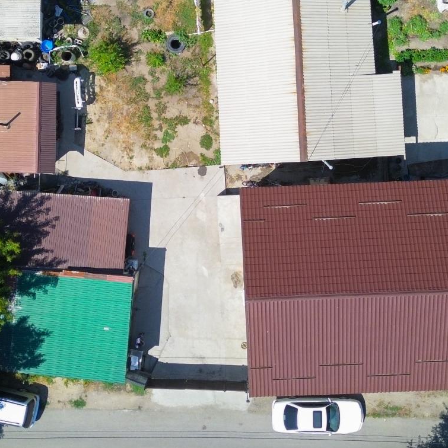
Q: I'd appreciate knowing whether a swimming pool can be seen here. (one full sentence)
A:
No, the photo shows no swimming pool.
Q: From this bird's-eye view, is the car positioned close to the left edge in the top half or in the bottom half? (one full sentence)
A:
The car positioned close to the left edge sits in the bottom half of the picture.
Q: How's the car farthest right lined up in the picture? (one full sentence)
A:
The car farthest right is oriented from left to right.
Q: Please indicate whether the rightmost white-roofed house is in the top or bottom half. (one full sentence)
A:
The rightmost white-roofed house sits in the top half of the picture.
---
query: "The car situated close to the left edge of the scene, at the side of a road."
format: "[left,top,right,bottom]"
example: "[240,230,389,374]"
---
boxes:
[0,385,37,429]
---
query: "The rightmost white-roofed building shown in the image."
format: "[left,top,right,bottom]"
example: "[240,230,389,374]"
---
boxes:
[214,0,417,169]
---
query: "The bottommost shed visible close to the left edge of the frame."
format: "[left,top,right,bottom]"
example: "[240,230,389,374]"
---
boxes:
[0,267,144,383]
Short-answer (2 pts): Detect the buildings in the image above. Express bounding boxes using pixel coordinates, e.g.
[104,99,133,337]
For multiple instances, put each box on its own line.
[0,80,61,175]
[0,267,144,383]
[214,0,417,169]
[0,0,51,44]
[0,191,131,269]
[238,179,448,397]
